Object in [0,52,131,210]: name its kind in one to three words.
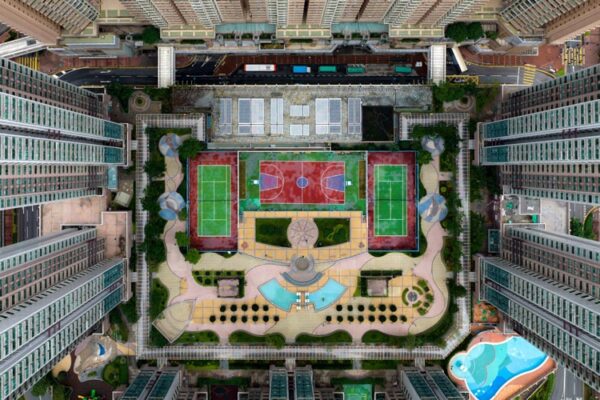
building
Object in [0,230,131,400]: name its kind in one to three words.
building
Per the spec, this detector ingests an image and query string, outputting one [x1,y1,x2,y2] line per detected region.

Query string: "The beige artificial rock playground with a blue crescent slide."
[74,335,115,372]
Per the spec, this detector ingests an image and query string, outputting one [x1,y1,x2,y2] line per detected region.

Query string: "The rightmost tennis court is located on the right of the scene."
[367,152,421,253]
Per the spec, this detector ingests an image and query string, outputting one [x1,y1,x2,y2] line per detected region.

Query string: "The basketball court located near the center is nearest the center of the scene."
[238,150,368,212]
